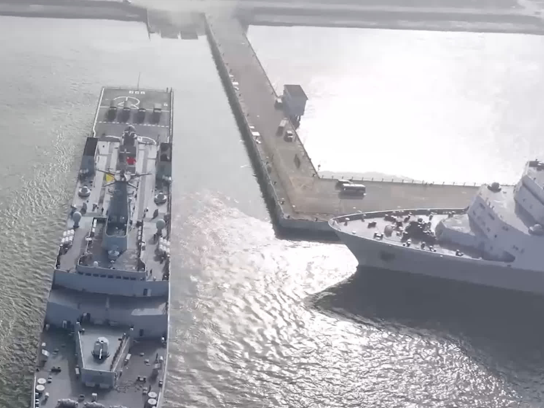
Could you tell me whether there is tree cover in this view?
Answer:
No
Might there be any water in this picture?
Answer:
Yes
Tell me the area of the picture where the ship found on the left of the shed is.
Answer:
left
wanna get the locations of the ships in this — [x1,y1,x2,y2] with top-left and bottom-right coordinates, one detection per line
[31,69,173,408]
[328,165,544,299]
